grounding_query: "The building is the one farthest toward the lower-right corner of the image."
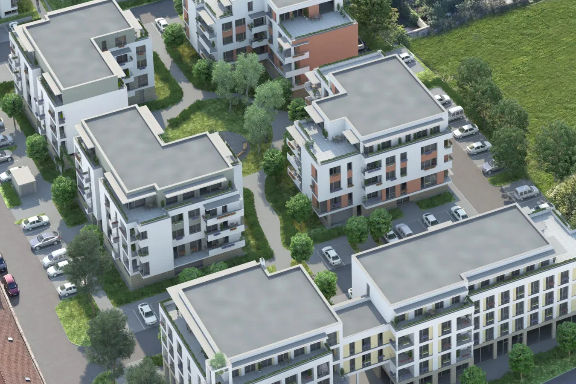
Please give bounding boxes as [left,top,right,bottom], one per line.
[352,203,576,384]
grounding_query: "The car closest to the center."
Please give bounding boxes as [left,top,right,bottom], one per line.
[320,246,341,267]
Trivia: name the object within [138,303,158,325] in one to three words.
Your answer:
car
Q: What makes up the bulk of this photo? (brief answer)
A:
buildings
